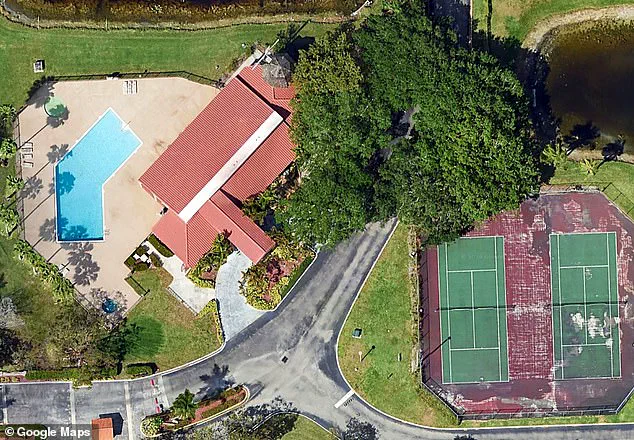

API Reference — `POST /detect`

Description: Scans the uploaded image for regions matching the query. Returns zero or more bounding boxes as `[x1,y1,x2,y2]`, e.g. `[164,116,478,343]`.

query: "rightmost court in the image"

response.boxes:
[550,232,620,379]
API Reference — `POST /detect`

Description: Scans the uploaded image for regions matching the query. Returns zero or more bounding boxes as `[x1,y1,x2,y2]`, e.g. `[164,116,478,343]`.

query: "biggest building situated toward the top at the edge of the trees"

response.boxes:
[139,62,316,269]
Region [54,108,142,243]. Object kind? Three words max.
swimming pool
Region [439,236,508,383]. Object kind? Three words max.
tennis court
